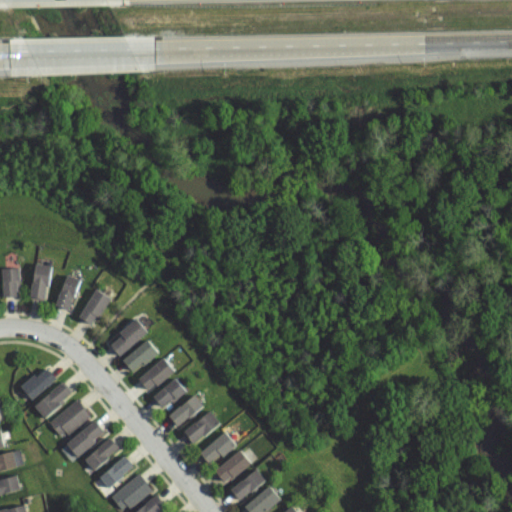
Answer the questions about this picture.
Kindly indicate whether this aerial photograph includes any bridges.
Yes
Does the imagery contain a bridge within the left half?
Yes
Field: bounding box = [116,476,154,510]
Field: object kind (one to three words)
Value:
house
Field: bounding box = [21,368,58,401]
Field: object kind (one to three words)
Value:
house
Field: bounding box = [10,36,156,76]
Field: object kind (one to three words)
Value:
bridge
